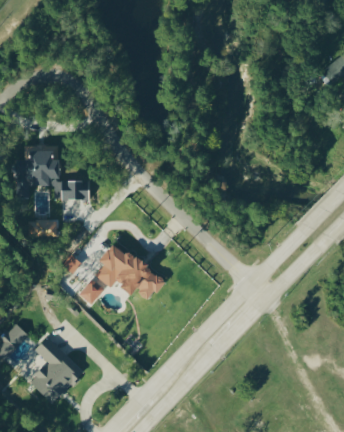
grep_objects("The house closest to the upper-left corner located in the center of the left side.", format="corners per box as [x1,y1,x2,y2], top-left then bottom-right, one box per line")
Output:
[28,150,62,193]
